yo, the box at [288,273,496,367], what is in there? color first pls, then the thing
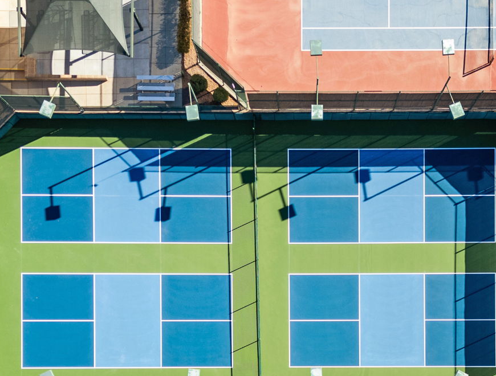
blue sports court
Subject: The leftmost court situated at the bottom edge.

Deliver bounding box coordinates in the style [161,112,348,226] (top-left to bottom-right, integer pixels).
[22,273,233,368]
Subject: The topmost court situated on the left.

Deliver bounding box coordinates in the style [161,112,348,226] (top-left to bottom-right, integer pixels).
[22,148,231,243]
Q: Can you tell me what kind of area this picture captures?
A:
sports ground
